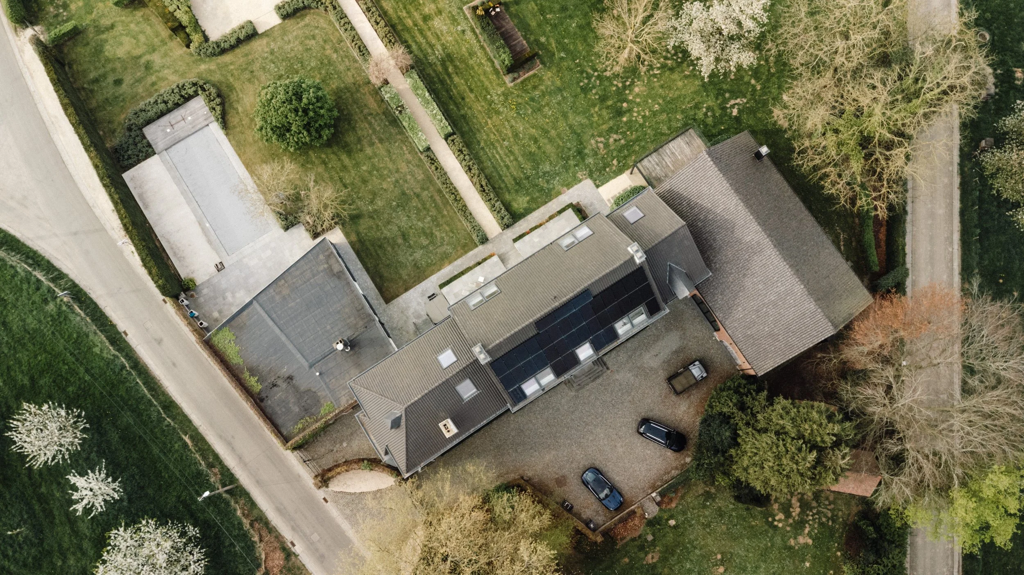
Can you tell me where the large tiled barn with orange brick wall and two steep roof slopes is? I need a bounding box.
[654,129,872,376]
